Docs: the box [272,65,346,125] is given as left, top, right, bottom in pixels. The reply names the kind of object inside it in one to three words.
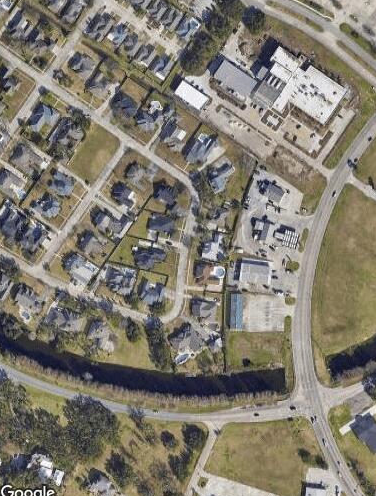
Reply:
building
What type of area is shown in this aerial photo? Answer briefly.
residential area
